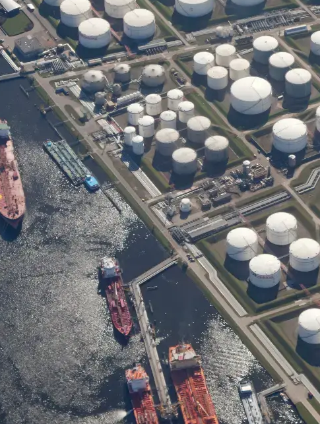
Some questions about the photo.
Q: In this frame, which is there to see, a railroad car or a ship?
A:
ship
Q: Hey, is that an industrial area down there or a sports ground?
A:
industrial area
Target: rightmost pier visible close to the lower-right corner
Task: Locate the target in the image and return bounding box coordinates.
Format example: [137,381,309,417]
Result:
[257,381,288,424]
